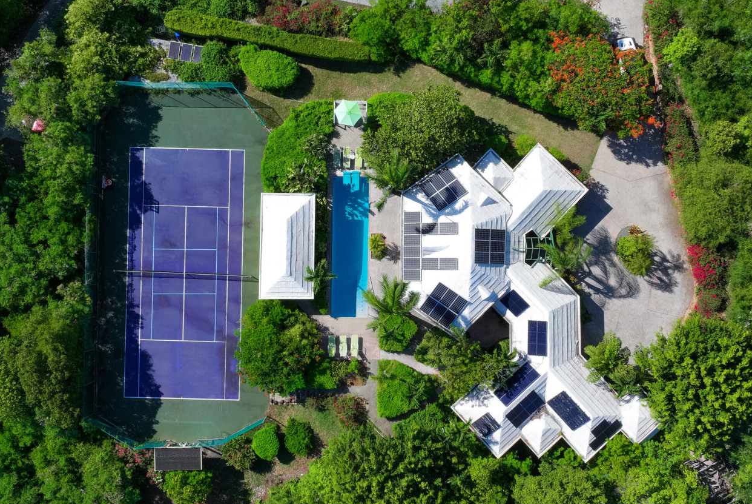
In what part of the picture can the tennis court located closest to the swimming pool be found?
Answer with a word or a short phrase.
left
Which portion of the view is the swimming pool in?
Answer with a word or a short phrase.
center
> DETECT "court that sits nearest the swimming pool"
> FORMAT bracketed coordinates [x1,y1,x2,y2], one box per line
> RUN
[97,90,273,443]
